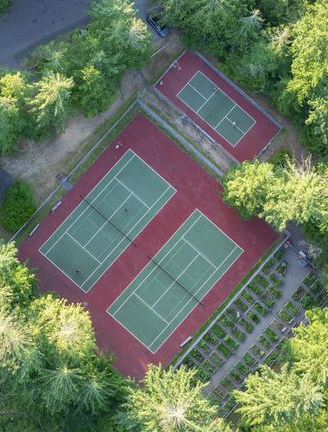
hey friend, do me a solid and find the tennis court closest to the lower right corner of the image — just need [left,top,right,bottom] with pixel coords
[86,173,281,376]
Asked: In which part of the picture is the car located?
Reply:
top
